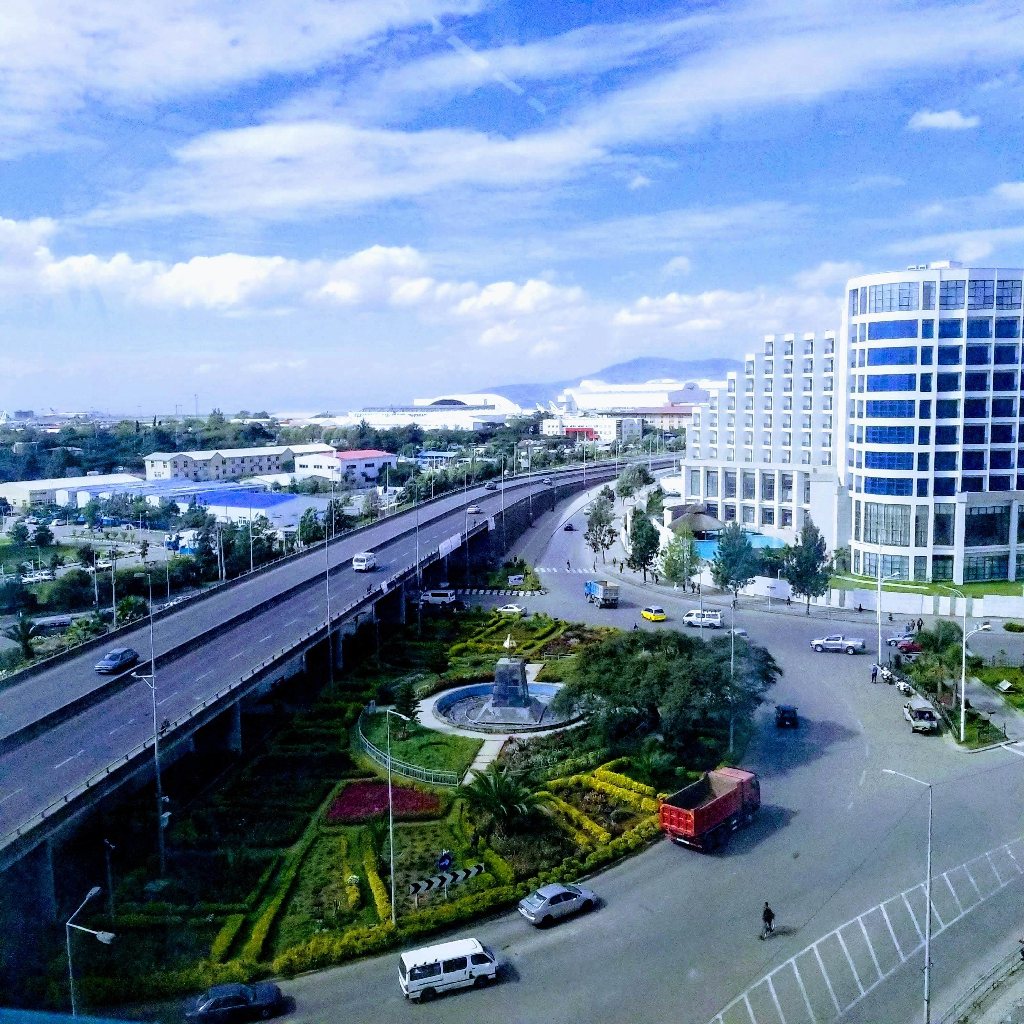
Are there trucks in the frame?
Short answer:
Yes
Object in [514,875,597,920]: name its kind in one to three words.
car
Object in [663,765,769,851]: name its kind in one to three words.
truck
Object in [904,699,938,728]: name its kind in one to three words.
truck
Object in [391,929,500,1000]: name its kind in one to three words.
vehicle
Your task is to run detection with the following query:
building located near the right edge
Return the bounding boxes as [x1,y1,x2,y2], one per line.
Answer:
[667,264,1024,583]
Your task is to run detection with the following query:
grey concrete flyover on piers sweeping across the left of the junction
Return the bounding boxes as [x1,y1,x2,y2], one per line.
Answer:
[0,457,676,908]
